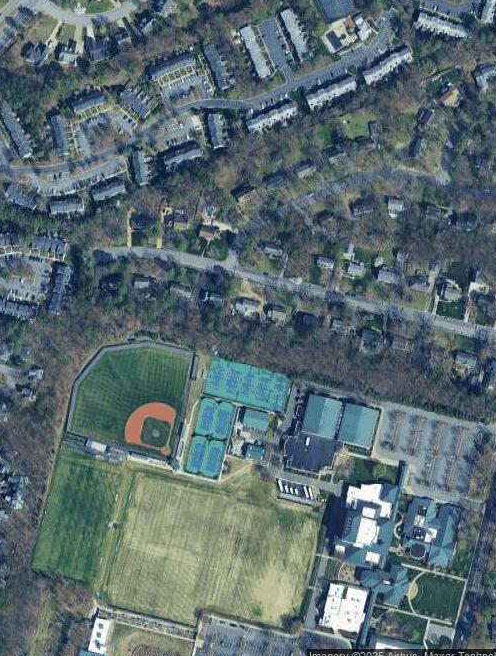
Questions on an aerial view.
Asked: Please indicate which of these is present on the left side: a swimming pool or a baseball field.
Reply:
baseball field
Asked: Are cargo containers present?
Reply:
No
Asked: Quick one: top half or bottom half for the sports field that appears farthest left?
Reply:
bottom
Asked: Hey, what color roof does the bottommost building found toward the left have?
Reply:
white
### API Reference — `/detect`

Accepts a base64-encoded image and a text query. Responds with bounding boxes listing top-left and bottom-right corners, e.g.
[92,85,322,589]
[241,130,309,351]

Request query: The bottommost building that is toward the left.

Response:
[79,618,111,656]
